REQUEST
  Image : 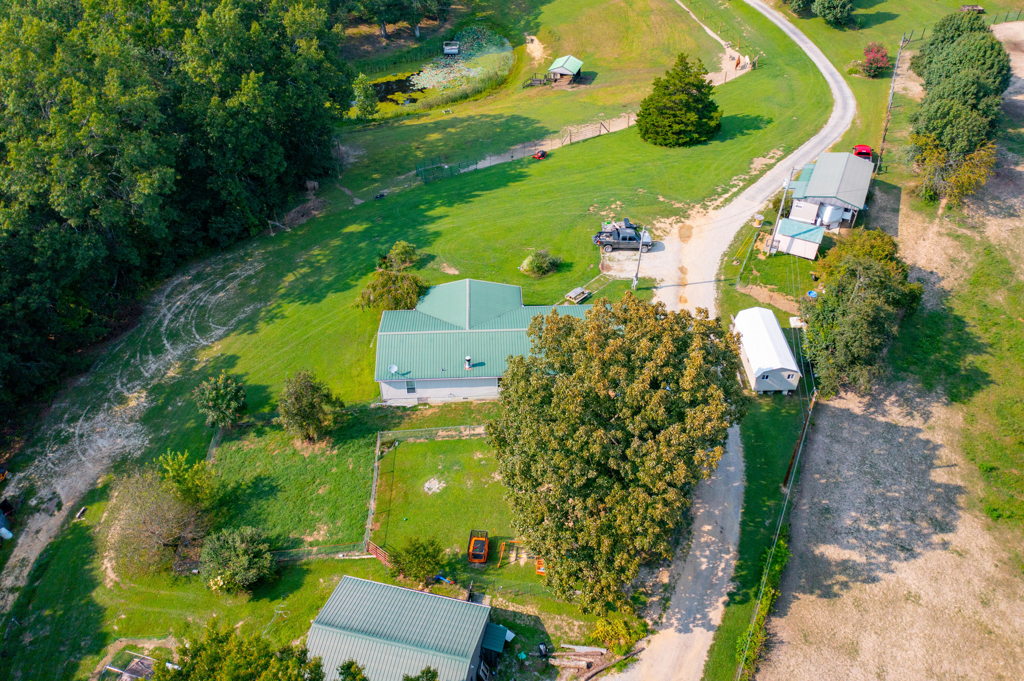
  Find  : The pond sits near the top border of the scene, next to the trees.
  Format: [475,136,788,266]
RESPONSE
[348,26,515,121]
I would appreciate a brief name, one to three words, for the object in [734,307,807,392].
shed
